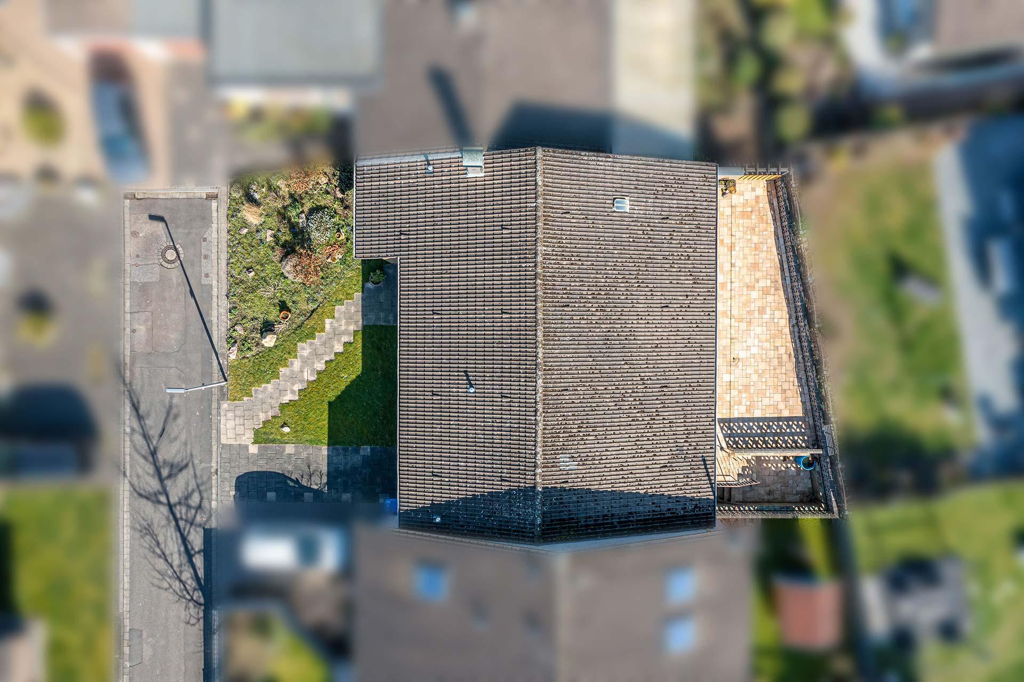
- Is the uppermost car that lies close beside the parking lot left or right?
left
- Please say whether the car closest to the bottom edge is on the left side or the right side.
left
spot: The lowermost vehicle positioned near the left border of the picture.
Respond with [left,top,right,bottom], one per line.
[0,438,95,487]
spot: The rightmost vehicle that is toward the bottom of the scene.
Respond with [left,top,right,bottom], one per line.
[240,525,349,576]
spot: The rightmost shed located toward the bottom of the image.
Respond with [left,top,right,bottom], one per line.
[765,570,840,647]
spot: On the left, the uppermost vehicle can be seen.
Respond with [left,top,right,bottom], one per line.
[89,76,153,183]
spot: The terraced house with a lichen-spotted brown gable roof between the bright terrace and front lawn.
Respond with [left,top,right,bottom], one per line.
[354,148,726,543]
